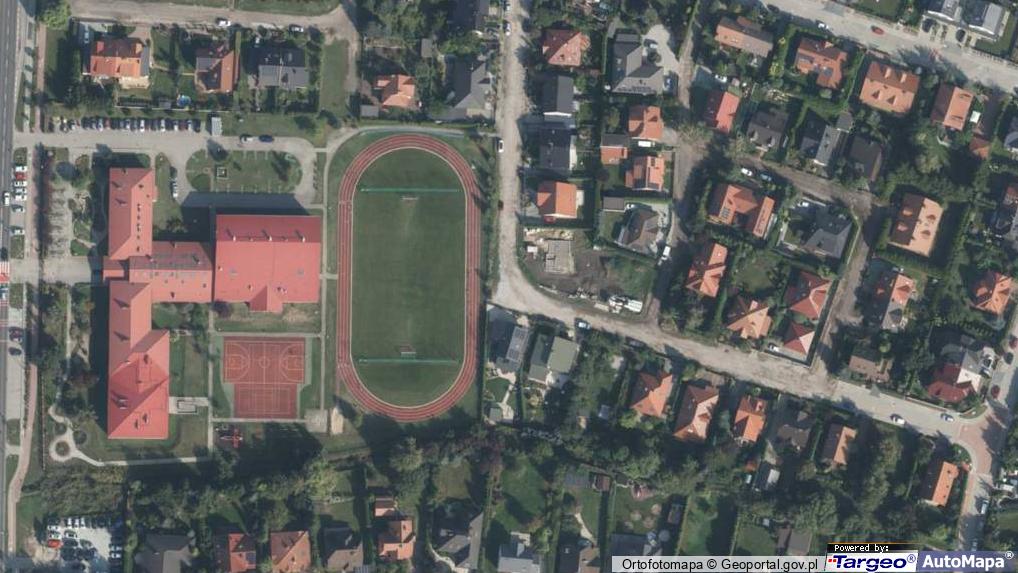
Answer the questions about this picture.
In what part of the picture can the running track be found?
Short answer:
center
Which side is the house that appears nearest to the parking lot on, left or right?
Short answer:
left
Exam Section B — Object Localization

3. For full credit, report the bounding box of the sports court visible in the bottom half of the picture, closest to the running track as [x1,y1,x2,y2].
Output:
[219,336,311,419]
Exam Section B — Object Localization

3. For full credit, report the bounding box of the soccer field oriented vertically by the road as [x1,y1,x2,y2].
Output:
[353,148,466,408]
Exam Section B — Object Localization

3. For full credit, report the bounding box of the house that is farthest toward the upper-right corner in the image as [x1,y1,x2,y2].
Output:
[961,0,1007,41]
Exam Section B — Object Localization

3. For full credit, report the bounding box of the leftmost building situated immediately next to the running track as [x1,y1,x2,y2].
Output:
[102,168,215,439]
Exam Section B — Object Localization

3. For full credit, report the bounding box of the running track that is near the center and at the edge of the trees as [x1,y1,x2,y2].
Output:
[337,132,481,423]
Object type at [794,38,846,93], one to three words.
house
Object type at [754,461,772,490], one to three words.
building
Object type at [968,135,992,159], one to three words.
shed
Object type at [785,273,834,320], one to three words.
house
